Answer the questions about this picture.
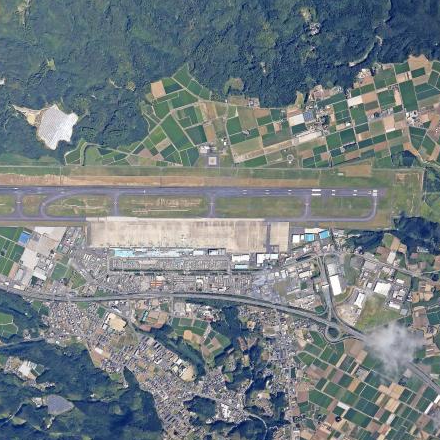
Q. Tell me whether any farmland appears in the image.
Yes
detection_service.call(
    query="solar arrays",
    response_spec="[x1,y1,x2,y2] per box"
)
[43,394,75,415]
[38,105,78,149]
